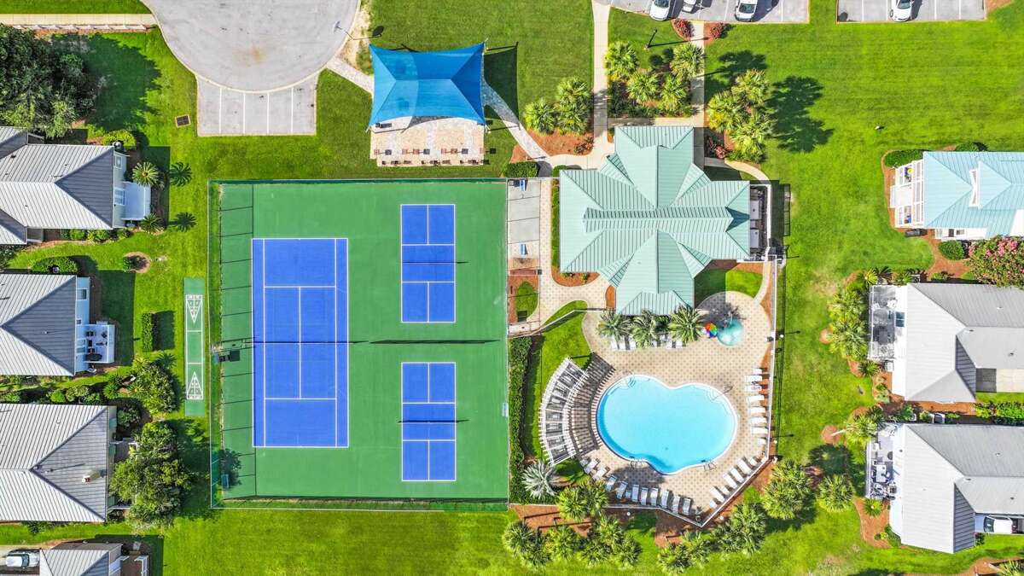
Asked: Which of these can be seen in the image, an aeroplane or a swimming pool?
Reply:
swimming pool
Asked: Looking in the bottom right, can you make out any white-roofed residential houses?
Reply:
Yes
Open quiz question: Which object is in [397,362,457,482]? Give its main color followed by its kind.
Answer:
blue sports court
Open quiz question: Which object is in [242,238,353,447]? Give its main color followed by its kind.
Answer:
blue tennis court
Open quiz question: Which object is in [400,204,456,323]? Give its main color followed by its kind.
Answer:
blue sports court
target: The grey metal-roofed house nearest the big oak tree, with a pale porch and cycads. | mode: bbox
[0,127,154,245]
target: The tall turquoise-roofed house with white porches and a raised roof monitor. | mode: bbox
[888,151,1024,239]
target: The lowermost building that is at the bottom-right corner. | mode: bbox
[863,422,1024,554]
